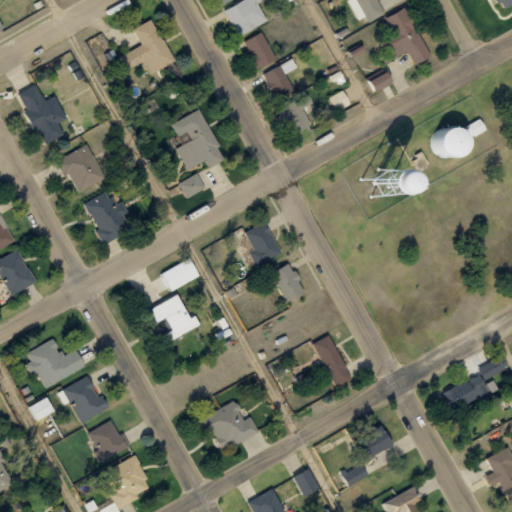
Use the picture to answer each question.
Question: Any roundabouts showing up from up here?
No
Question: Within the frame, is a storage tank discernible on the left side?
No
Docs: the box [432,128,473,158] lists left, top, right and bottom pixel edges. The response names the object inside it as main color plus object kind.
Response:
white storage tank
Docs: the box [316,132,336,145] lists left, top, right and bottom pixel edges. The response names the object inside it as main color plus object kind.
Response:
white vehicle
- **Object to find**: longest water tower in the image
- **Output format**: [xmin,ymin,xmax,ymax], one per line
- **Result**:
[360,166,428,200]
